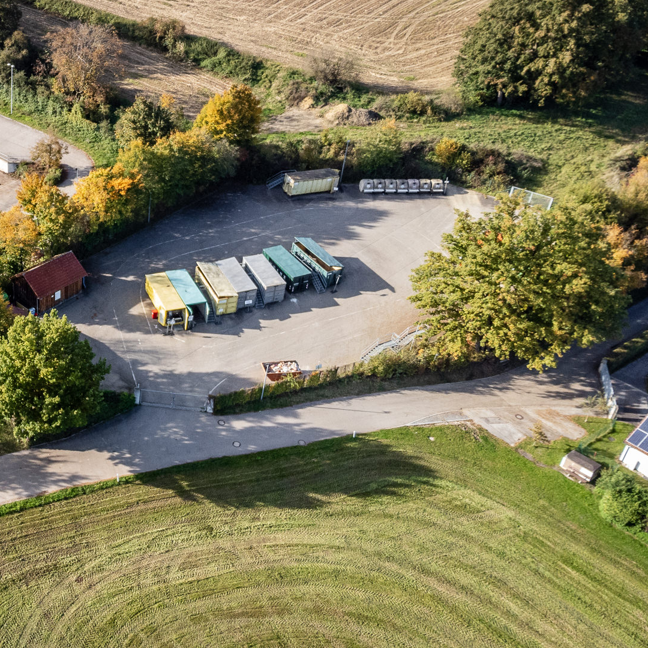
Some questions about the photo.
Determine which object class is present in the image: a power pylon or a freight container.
freight container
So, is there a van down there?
No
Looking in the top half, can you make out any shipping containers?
Yes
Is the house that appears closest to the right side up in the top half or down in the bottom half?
bottom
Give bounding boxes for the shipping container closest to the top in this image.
[282,168,339,195]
